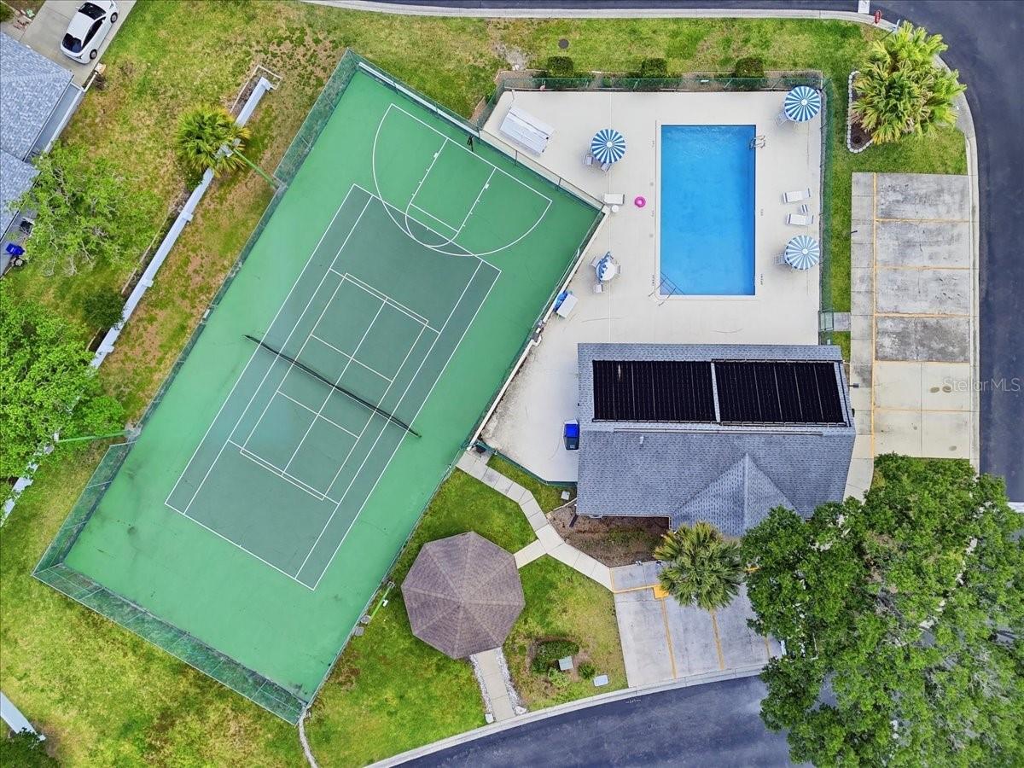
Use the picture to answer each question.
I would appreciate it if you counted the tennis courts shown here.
one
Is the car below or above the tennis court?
above it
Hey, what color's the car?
white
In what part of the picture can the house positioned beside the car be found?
top left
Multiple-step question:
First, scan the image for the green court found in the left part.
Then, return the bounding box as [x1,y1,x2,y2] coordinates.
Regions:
[64,69,603,703]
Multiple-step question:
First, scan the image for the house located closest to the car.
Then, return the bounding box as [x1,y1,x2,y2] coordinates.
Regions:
[0,30,88,245]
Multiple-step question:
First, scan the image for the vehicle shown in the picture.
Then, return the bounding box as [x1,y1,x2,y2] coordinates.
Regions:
[60,0,118,60]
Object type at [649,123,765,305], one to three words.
swimming pool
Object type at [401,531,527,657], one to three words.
gazebo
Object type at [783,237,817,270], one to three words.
umbrella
